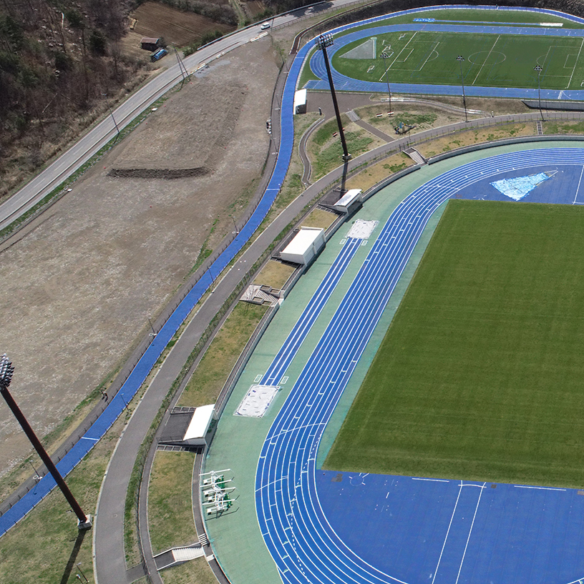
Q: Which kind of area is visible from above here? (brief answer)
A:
sports ground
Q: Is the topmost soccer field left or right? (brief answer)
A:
right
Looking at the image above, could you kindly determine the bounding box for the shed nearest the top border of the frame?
[134,35,163,50]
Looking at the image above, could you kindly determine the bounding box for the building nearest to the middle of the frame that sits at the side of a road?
[272,228,326,265]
